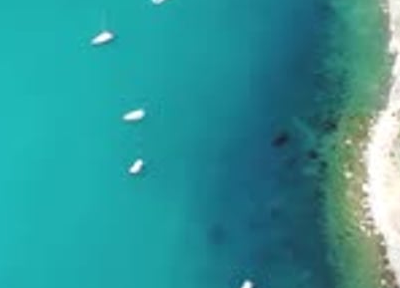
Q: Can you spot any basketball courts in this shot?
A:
No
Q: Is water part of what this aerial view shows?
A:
Yes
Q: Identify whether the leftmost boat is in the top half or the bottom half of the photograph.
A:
top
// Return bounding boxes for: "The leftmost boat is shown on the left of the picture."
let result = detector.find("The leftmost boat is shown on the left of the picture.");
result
[91,14,115,42]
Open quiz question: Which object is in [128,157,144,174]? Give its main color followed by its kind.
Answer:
white boat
